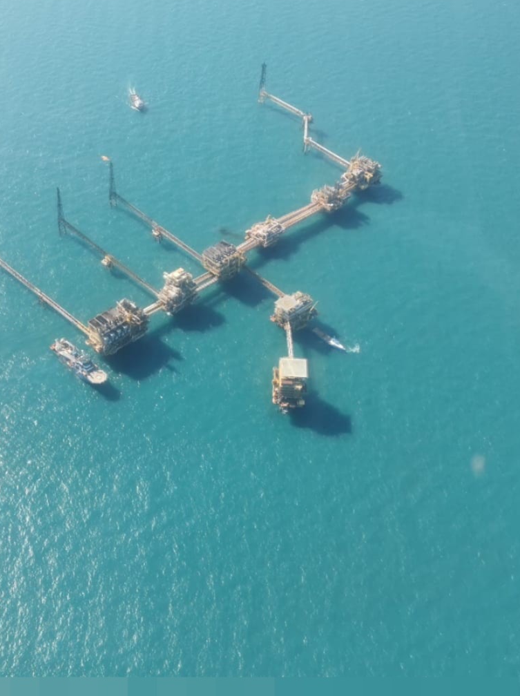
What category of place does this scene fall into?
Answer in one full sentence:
This image shows a port.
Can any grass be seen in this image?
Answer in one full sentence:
No, there is no grass in the image.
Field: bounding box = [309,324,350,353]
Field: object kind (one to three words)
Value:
ship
